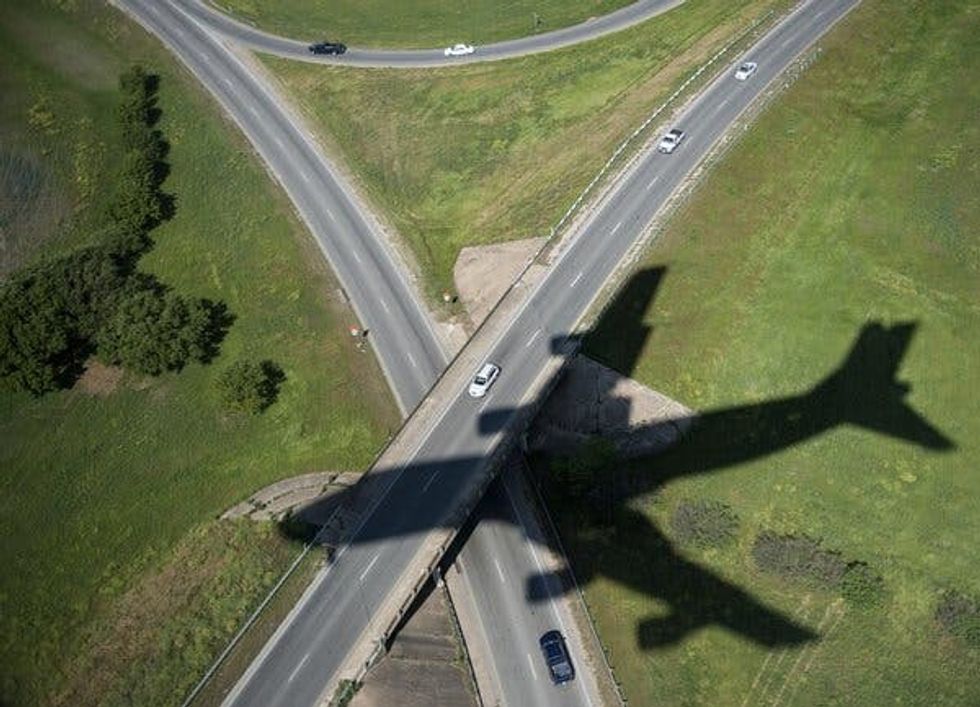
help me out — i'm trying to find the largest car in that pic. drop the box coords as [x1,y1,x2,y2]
[539,629,576,691]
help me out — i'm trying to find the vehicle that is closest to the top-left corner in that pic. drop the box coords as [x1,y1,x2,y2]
[308,41,345,58]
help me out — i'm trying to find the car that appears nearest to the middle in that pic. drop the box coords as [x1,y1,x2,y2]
[465,362,502,403]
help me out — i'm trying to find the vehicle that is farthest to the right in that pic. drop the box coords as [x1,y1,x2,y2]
[732,62,758,84]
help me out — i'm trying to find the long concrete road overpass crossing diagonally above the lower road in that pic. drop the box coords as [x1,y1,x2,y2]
[230,236,685,707]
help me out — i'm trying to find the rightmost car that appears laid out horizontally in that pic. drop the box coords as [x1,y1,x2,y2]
[444,44,475,59]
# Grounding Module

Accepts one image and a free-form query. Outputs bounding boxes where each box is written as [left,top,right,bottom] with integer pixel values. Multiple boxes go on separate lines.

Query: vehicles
[308,41,345,58]
[656,126,687,157]
[465,362,502,403]
[444,44,475,59]
[539,629,576,691]
[732,62,758,84]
